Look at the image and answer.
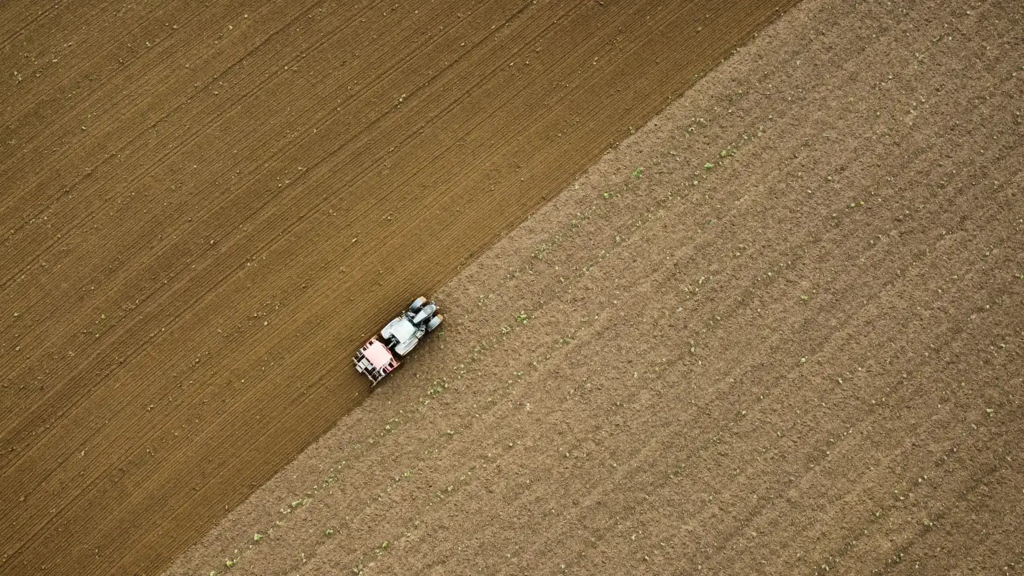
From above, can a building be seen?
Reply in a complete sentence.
No, the scene contains no building.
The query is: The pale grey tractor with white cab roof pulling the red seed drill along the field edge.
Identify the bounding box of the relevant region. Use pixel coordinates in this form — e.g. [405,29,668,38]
[380,296,443,356]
